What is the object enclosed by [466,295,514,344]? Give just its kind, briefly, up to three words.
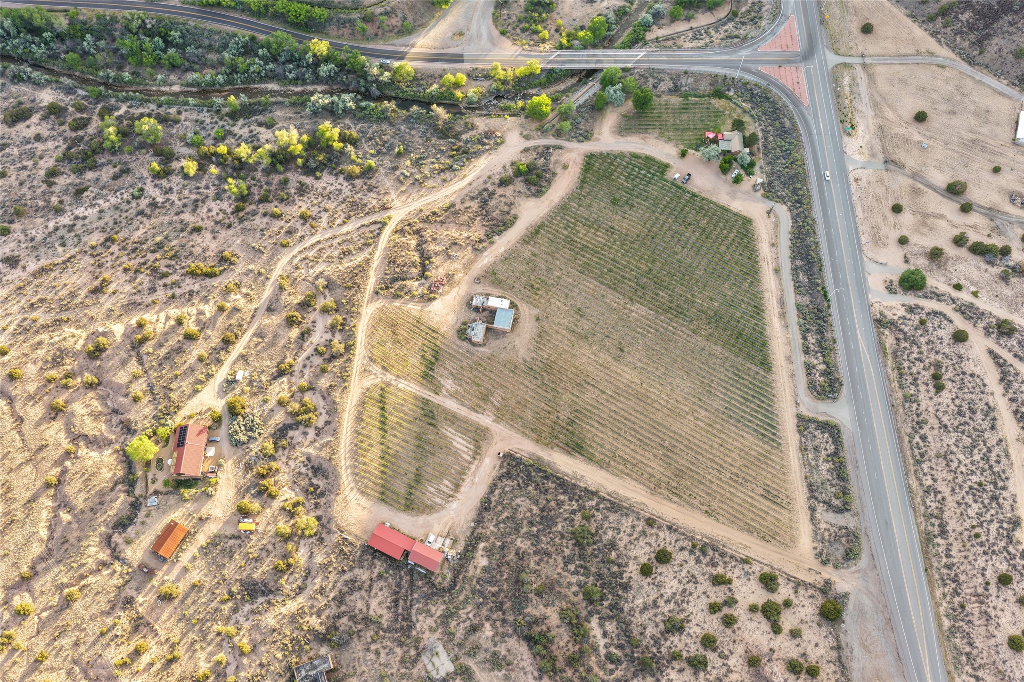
house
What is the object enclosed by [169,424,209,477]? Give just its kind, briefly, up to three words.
house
